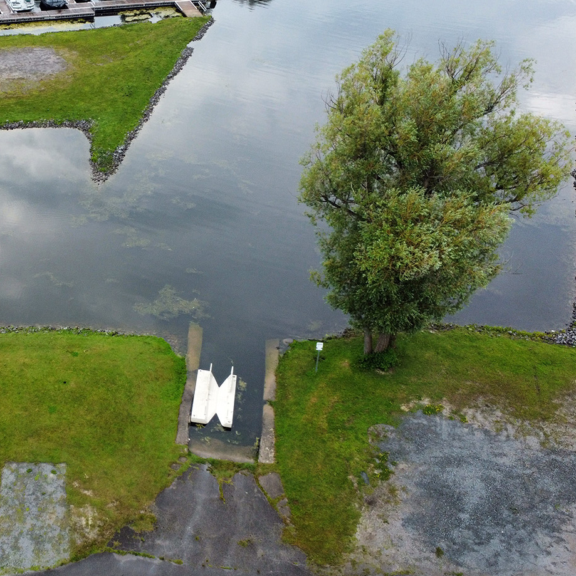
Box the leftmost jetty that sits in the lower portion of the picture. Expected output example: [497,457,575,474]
[190,370,209,427]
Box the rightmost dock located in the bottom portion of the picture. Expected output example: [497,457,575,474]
[221,375,236,427]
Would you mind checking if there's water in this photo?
Yes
